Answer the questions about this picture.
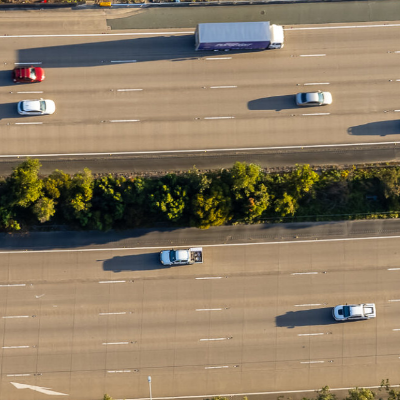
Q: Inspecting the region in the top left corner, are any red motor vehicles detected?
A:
Yes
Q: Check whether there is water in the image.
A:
No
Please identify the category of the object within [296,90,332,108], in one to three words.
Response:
car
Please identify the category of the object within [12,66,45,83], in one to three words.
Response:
car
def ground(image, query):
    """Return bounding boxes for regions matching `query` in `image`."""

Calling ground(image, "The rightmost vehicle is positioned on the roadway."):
[332,304,377,321]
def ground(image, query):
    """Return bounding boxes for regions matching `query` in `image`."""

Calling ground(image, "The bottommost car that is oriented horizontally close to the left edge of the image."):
[18,99,55,116]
